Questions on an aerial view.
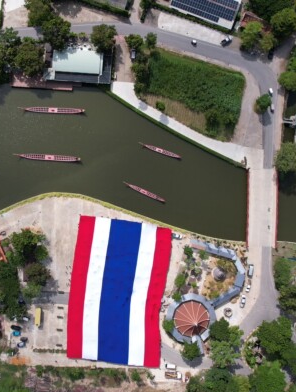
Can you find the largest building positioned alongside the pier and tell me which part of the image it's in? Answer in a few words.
top left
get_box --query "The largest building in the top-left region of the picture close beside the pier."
[43,42,113,88]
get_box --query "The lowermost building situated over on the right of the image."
[164,290,216,353]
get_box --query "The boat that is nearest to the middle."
[125,182,167,202]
